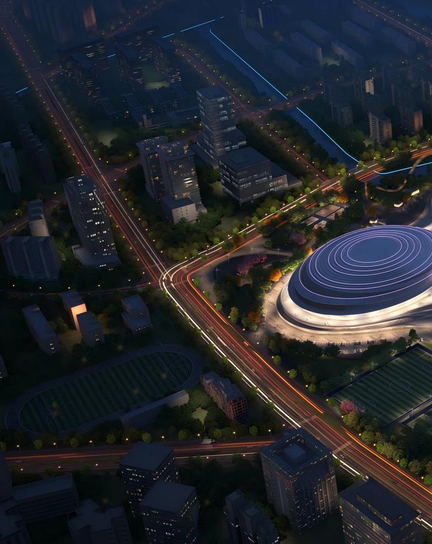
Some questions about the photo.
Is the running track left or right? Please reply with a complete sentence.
It is on the left.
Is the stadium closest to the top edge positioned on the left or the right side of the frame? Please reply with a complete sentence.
It is on the right.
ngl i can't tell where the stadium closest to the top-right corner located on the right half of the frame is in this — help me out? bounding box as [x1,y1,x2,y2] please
[288,225,432,316]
